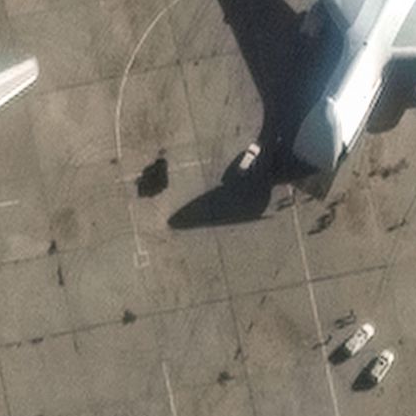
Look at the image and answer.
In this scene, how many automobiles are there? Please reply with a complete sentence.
In total, there are 3 automobiles in the scene.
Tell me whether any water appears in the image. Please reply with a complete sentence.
No, the picture contains no water.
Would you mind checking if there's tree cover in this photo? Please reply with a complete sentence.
No, the picture contains no tree cover.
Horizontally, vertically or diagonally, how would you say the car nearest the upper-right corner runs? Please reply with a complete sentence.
The car nearest the upper-right corner is oriented diagonally.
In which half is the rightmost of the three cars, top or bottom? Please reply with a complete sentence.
Seen from above, the rightmost of the three cars lies in the bottom half of the view.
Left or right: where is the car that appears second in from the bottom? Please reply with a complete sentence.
The car that appears second in from the bottom sits on the right side.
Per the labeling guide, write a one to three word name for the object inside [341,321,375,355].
car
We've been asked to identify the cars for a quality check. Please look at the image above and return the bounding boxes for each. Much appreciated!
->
[367,349,396,383]
[237,142,261,169]
[341,321,375,355]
